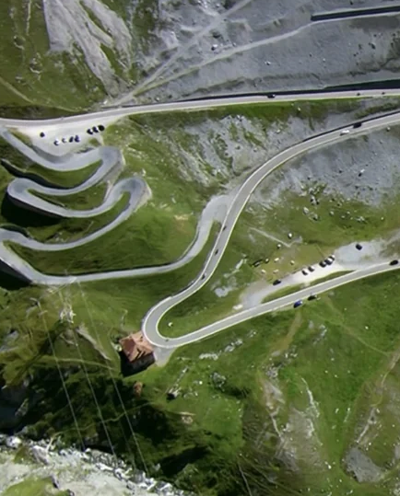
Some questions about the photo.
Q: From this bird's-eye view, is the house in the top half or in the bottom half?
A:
bottom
